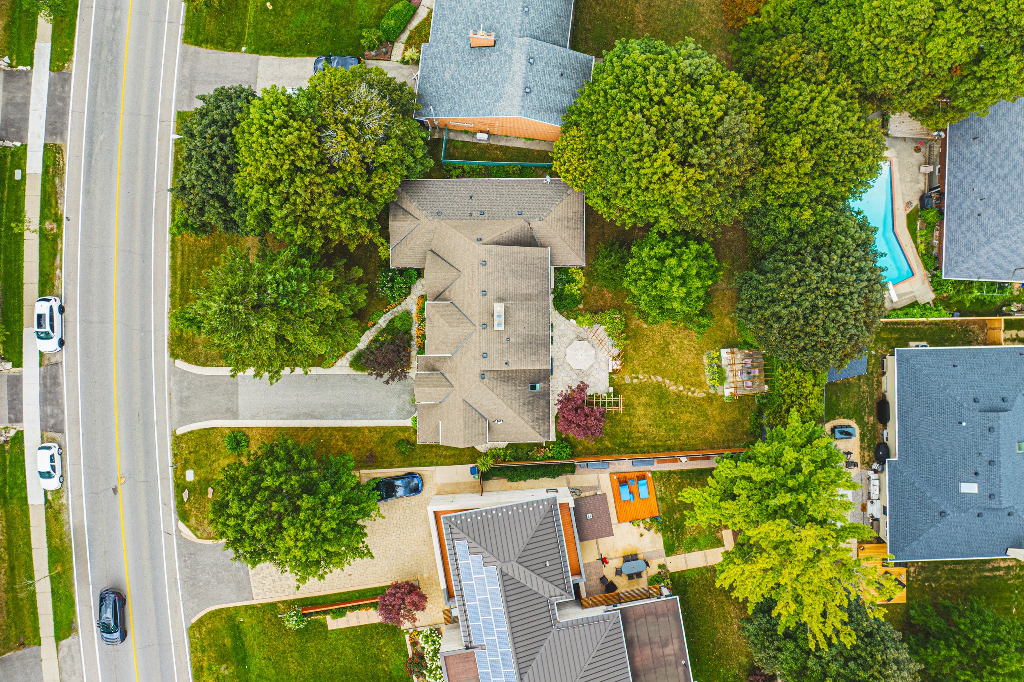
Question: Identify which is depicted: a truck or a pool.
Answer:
pool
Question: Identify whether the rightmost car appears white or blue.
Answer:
blue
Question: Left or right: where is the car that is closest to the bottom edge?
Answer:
left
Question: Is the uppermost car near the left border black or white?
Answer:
white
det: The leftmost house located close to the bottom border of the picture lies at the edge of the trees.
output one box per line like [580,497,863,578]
[427,477,693,682]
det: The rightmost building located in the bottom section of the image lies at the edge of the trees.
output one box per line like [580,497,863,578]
[879,345,1024,562]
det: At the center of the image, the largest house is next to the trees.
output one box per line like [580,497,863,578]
[389,172,586,448]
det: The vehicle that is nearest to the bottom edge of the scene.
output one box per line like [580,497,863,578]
[98,588,131,644]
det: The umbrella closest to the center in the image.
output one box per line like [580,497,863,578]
[566,341,595,370]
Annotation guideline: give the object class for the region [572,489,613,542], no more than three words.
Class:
building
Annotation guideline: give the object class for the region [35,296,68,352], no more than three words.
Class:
car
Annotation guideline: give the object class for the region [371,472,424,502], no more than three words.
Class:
car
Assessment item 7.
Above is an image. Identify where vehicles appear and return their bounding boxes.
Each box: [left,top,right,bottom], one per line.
[371,472,424,502]
[98,588,131,644]
[37,442,68,490]
[314,53,364,79]
[35,296,68,352]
